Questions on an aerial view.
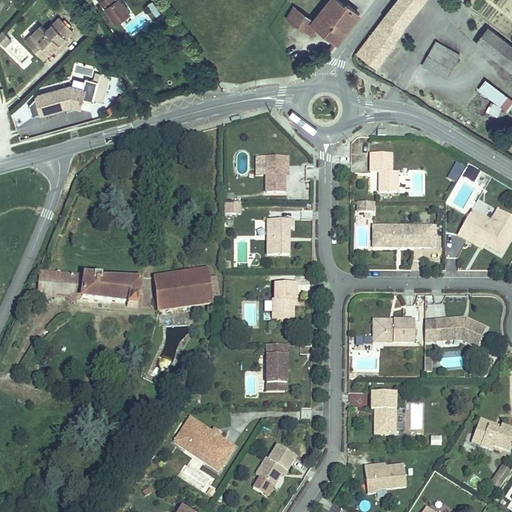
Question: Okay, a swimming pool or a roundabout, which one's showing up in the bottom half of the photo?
swimming pool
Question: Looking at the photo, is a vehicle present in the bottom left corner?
No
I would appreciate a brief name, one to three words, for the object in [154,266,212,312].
barn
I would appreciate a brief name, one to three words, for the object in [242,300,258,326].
swimming pool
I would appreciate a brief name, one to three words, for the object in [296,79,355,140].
roundabout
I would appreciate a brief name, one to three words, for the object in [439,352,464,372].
swimming pool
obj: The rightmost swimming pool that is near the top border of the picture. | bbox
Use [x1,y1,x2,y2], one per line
[122,12,152,32]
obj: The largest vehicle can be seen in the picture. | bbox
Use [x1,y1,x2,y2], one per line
[288,112,318,136]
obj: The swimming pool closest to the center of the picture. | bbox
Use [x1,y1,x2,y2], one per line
[234,236,250,267]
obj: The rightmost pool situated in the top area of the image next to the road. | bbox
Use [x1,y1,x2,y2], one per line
[446,163,490,214]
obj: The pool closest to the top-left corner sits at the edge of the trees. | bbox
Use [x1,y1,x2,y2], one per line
[72,63,94,78]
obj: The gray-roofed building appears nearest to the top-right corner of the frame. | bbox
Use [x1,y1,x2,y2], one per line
[476,30,512,72]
